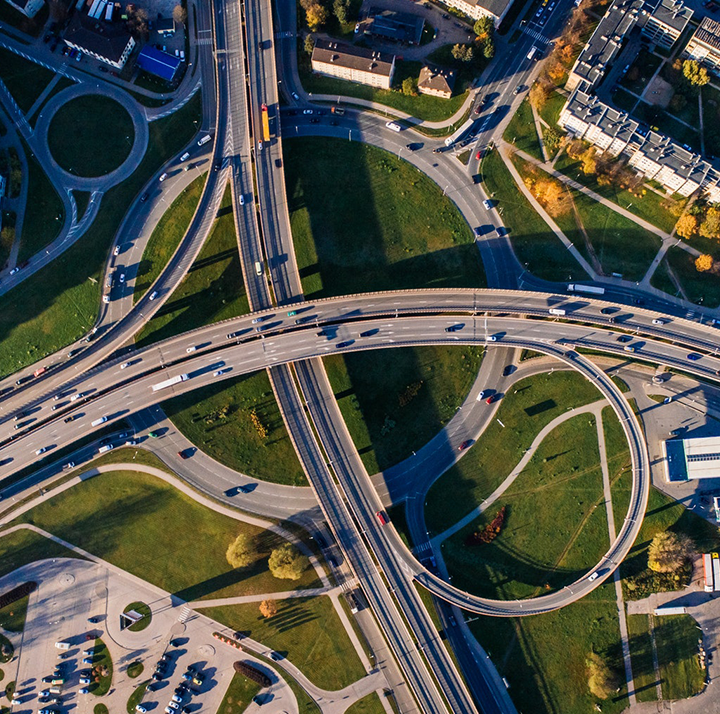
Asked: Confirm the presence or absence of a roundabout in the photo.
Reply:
Yes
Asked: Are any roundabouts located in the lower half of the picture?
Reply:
No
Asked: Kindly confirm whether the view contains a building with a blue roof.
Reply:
Yes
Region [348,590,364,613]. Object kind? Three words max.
vehicle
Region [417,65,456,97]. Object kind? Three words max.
house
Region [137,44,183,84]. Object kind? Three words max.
building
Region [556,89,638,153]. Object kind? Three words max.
building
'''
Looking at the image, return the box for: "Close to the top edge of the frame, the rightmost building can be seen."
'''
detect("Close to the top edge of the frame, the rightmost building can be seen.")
[677,15,720,82]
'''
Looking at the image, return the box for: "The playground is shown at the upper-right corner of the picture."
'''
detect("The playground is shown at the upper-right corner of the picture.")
[646,79,671,105]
